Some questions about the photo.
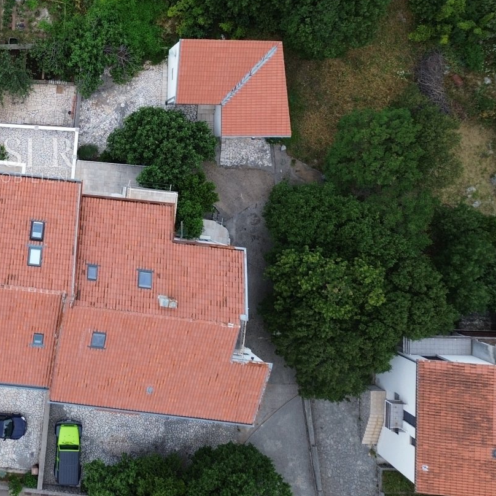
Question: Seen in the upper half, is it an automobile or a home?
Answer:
home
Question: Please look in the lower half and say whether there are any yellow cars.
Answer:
No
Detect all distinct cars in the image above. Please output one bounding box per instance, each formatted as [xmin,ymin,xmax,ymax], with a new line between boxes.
[53,423,84,489]
[0,410,28,441]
